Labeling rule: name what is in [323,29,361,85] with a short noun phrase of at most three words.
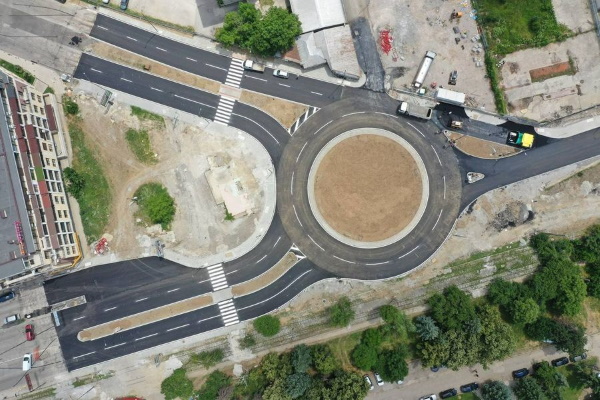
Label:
building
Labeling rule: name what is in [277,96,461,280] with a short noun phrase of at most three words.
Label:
roundabout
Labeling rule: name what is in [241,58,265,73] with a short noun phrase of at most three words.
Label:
vehicle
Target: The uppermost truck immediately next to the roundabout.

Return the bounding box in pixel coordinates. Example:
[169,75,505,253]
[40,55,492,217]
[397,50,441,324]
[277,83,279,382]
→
[411,49,438,91]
